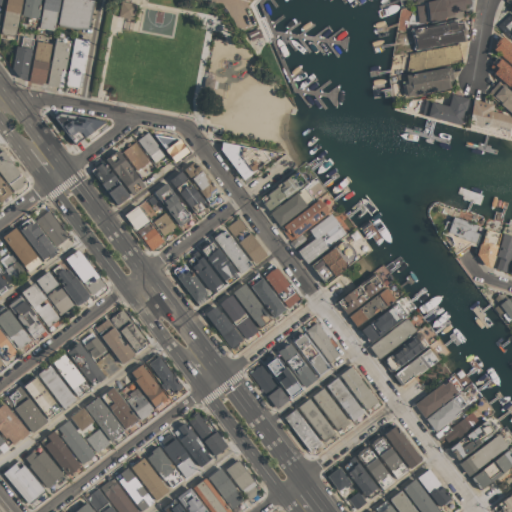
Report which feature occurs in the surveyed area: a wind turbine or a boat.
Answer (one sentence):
I can see a boat in this picture.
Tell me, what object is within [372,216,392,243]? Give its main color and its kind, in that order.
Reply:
white boat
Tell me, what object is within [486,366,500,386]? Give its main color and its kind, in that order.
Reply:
white boat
